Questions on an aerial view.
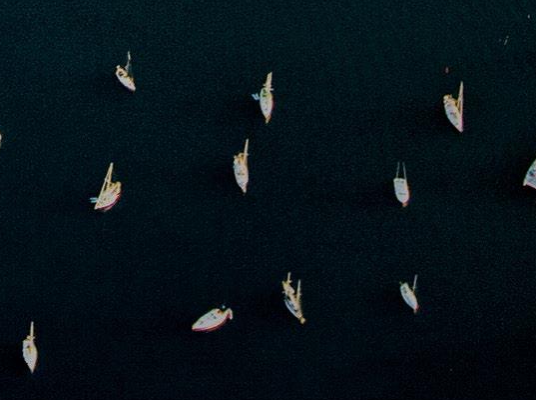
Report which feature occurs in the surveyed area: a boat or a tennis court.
boat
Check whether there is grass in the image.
No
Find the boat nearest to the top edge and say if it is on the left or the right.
left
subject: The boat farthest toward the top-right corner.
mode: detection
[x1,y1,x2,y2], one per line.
[443,79,463,133]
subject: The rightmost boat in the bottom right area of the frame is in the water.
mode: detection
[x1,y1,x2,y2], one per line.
[400,274,417,312]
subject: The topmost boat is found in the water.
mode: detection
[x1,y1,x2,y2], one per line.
[115,51,135,92]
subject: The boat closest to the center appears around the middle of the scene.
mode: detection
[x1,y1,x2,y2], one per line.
[233,138,249,194]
